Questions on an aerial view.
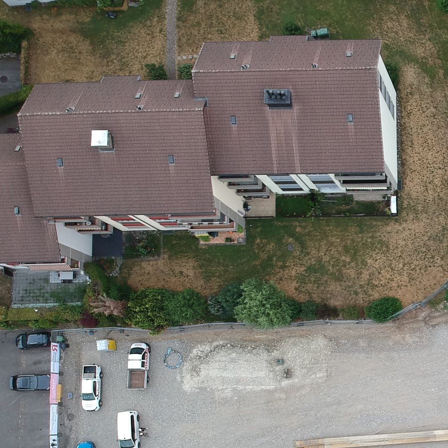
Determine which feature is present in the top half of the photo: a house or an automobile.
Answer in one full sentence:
The one visible in the top half of the photo is a house.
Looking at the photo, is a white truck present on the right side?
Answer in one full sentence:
No, no white truck appears on the right side.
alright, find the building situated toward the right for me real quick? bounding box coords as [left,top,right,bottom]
[189,36,394,193]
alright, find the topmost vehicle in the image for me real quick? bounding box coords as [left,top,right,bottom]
[14,331,53,351]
